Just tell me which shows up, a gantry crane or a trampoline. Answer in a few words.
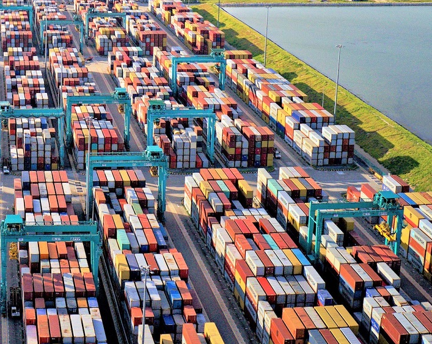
gantry crane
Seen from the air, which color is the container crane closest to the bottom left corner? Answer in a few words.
blue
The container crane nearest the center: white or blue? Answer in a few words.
blue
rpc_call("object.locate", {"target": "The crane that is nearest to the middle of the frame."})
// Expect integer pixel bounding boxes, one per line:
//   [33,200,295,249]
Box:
[143,99,216,165]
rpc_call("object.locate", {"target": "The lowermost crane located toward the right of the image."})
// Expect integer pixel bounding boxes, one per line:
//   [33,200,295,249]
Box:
[289,184,395,251]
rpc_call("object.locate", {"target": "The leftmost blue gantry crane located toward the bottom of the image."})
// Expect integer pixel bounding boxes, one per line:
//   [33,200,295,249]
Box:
[0,217,101,319]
